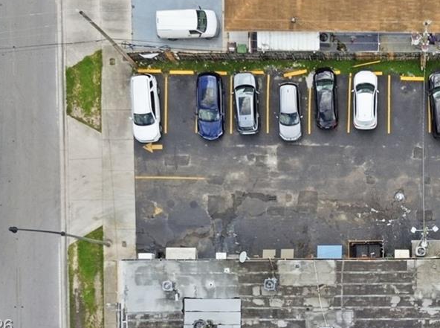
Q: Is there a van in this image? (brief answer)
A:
Yes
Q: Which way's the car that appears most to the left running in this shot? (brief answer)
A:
up and down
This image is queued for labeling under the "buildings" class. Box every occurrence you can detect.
[222,0,440,34]
[118,245,440,328]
